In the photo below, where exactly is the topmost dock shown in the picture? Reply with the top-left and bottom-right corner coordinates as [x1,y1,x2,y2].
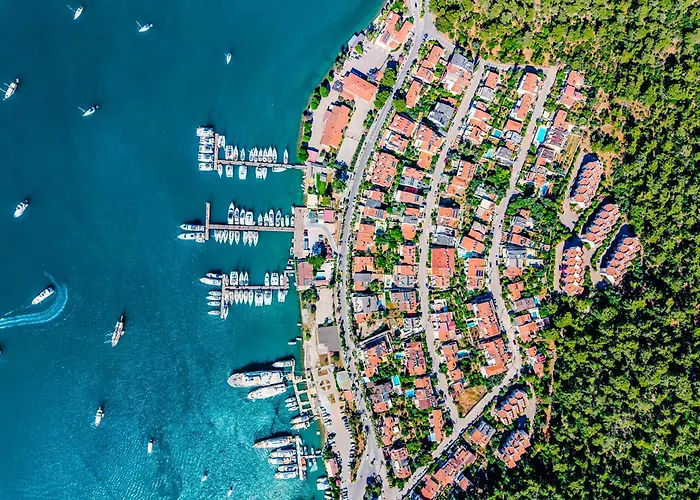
[213,133,306,170]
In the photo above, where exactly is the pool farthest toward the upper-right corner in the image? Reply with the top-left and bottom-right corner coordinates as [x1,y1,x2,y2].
[535,125,549,144]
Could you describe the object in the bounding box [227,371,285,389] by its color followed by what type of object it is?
white ship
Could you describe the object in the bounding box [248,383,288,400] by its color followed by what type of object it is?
white ship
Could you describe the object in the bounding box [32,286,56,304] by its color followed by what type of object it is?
white boat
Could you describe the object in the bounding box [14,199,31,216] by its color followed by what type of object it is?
white boat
